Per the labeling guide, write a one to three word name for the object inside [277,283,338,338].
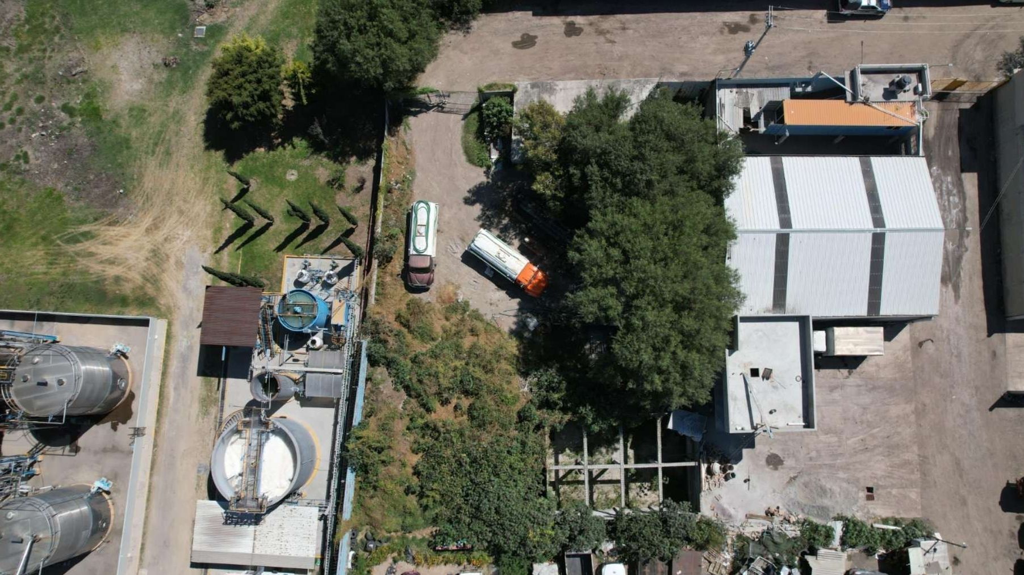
storage tank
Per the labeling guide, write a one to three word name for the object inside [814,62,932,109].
building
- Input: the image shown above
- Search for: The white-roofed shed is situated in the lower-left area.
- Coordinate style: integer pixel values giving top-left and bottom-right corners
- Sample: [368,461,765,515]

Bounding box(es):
[190,493,329,569]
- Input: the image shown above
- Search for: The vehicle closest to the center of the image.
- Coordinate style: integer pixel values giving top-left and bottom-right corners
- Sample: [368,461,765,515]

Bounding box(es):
[467,228,550,298]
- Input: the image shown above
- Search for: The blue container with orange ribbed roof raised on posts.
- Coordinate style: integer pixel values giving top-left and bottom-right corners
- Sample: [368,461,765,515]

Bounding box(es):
[762,99,919,140]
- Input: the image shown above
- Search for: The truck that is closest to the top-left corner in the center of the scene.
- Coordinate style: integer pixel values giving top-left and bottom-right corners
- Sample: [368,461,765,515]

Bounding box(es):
[405,202,439,288]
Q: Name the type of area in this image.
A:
industrial area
